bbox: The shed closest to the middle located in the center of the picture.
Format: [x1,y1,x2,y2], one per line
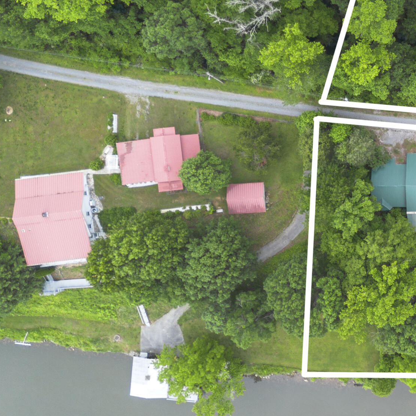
[227,182,267,213]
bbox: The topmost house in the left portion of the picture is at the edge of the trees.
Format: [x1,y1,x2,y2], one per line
[117,127,203,192]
